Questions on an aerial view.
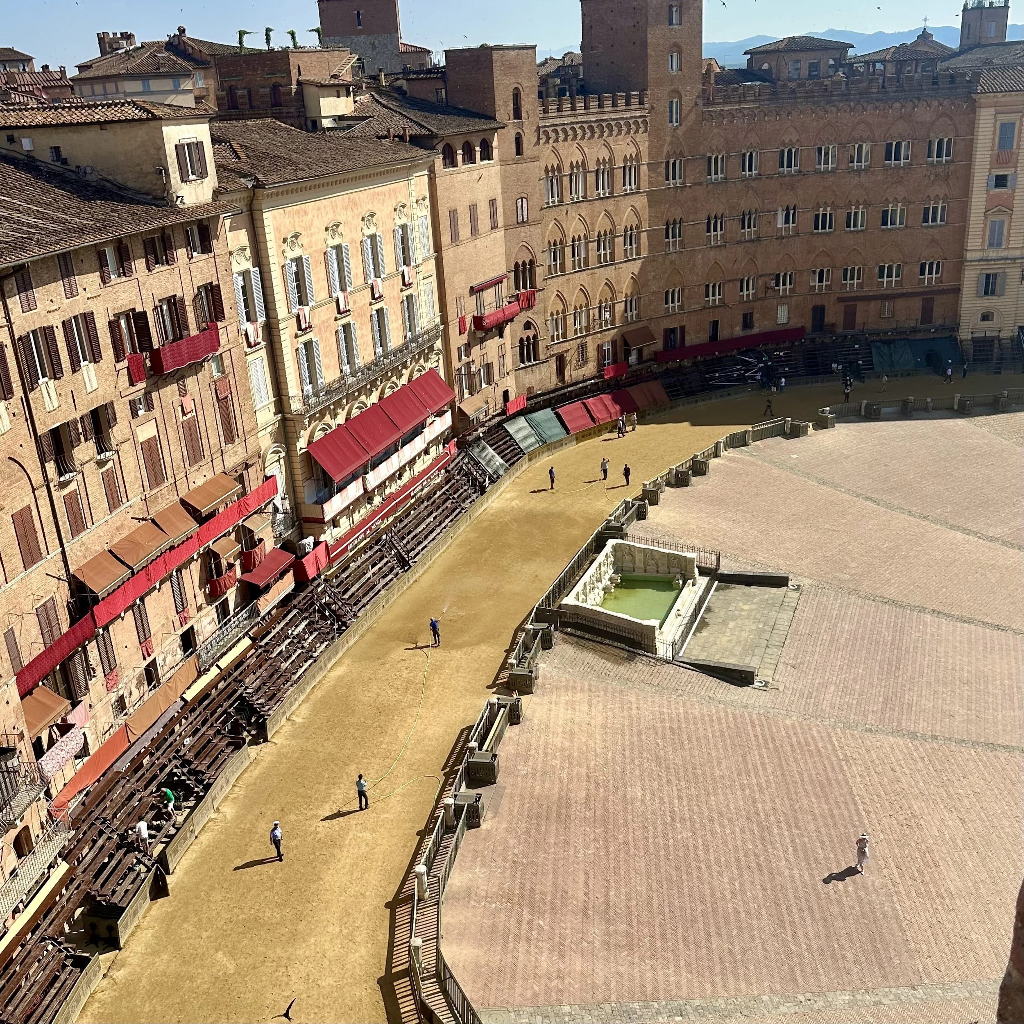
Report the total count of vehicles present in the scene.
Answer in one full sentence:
There are no vehicles in the image.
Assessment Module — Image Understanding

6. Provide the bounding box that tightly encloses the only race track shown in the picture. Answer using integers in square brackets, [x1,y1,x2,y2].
[34,371,1024,1024]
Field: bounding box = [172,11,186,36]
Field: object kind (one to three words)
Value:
chimney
